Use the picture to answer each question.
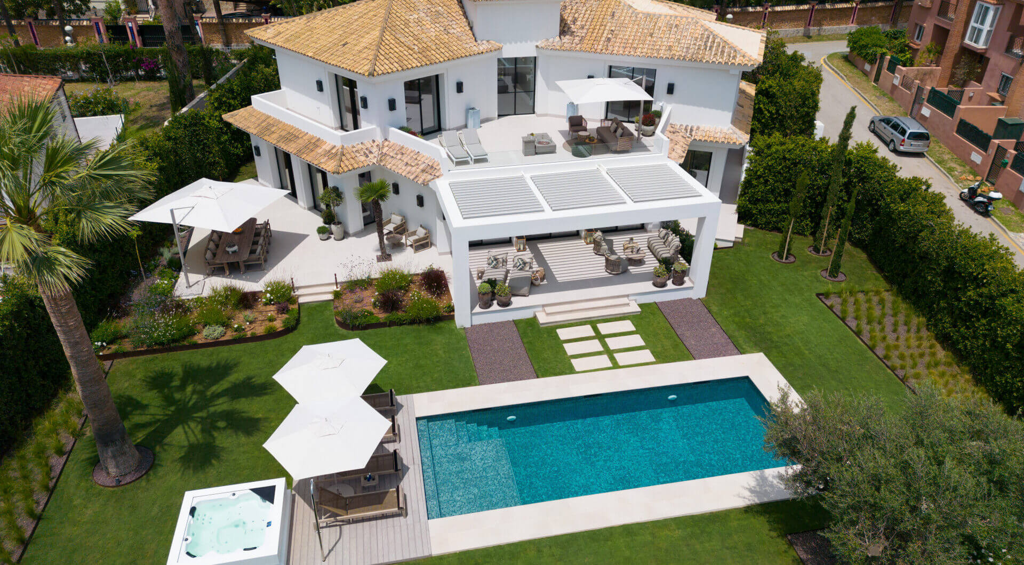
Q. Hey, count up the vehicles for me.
2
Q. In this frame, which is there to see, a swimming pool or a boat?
swimming pool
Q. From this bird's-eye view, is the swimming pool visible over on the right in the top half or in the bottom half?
bottom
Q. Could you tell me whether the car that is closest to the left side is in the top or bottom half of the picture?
top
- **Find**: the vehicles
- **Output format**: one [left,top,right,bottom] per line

[963,170,1001,214]
[870,110,940,153]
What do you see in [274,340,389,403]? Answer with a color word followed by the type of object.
white umbrella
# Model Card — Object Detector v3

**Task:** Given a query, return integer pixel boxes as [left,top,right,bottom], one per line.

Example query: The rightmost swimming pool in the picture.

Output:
[413,352,873,556]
